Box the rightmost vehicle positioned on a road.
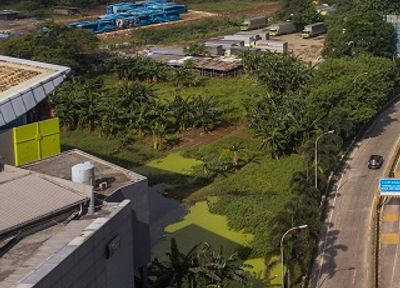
[365,153,382,169]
